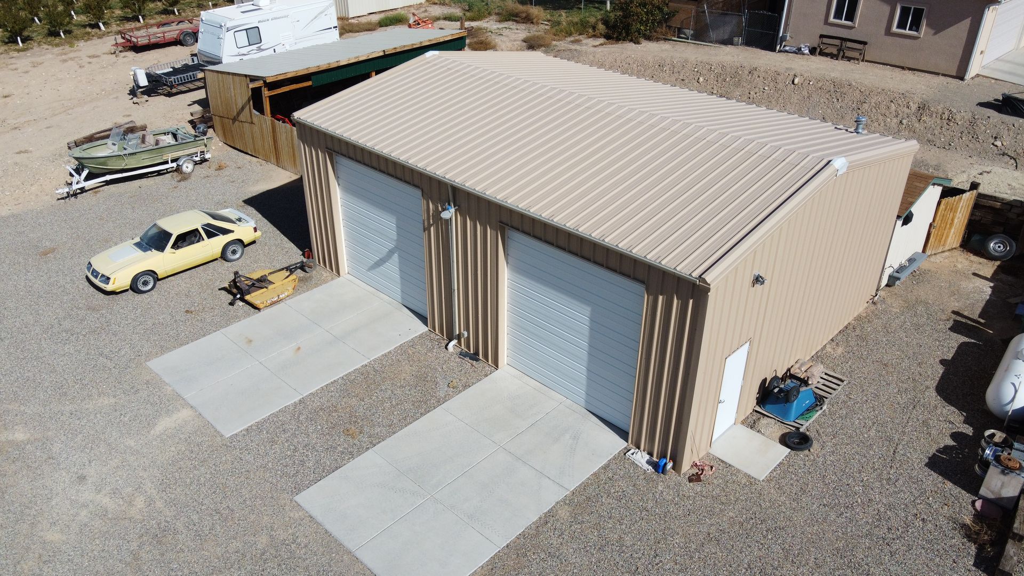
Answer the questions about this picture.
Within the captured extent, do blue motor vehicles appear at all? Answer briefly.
No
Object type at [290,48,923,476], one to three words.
building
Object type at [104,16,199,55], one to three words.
trailer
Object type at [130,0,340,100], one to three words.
trailer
